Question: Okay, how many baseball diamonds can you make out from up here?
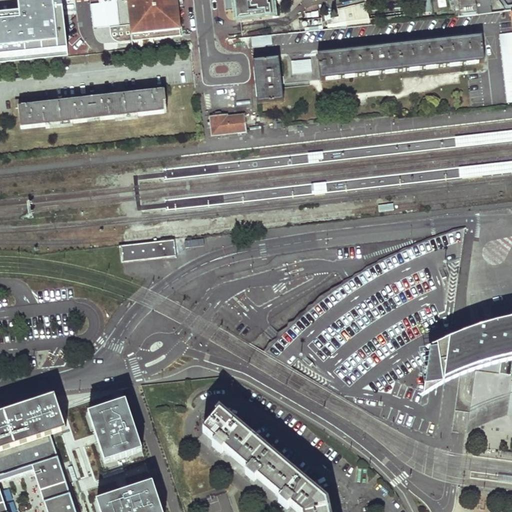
0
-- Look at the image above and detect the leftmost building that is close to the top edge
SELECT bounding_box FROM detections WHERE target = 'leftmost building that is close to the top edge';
[0,0,68,62]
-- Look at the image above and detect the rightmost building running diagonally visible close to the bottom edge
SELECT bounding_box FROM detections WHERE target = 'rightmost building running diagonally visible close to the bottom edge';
[201,404,331,512]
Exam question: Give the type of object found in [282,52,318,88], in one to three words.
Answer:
building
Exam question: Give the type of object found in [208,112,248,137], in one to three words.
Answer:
house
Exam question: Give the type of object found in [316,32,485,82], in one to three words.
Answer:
building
